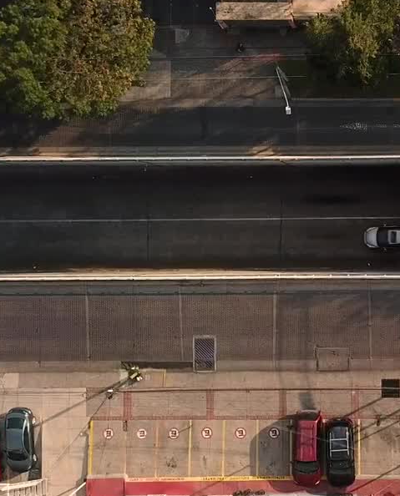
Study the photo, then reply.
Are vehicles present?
Yes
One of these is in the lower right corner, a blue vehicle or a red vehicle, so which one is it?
red vehicle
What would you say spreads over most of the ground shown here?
paved ground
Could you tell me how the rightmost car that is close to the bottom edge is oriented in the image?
up and down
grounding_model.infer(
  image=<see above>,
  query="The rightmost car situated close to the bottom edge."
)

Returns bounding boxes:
[324,418,357,486]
